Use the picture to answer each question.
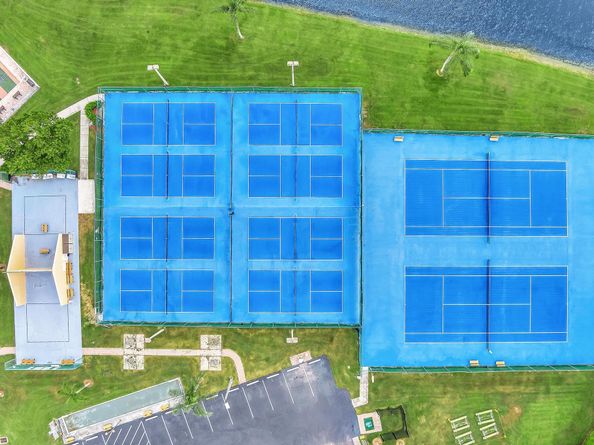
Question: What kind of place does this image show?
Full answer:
This image shows a sports ground.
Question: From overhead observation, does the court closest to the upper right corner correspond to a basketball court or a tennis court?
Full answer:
In the photo, the court closest to the upper right corner shows up as a tennis court.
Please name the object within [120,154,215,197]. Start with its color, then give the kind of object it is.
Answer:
blue sports court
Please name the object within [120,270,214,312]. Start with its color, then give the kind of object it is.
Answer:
blue sports court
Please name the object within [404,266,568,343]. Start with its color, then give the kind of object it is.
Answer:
blue tennis court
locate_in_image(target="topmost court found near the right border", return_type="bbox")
[404,160,567,236]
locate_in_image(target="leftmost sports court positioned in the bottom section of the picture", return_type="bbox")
[3,178,82,365]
